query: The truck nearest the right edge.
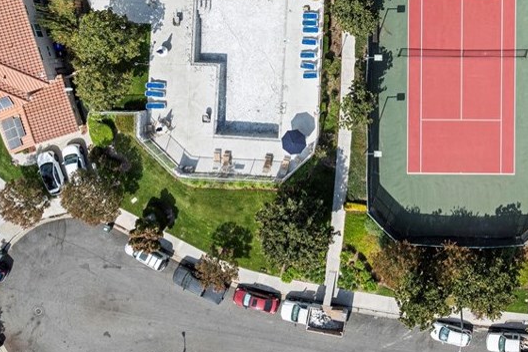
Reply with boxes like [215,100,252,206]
[485,328,528,352]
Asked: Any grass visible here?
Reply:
Yes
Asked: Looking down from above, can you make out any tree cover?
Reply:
Yes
